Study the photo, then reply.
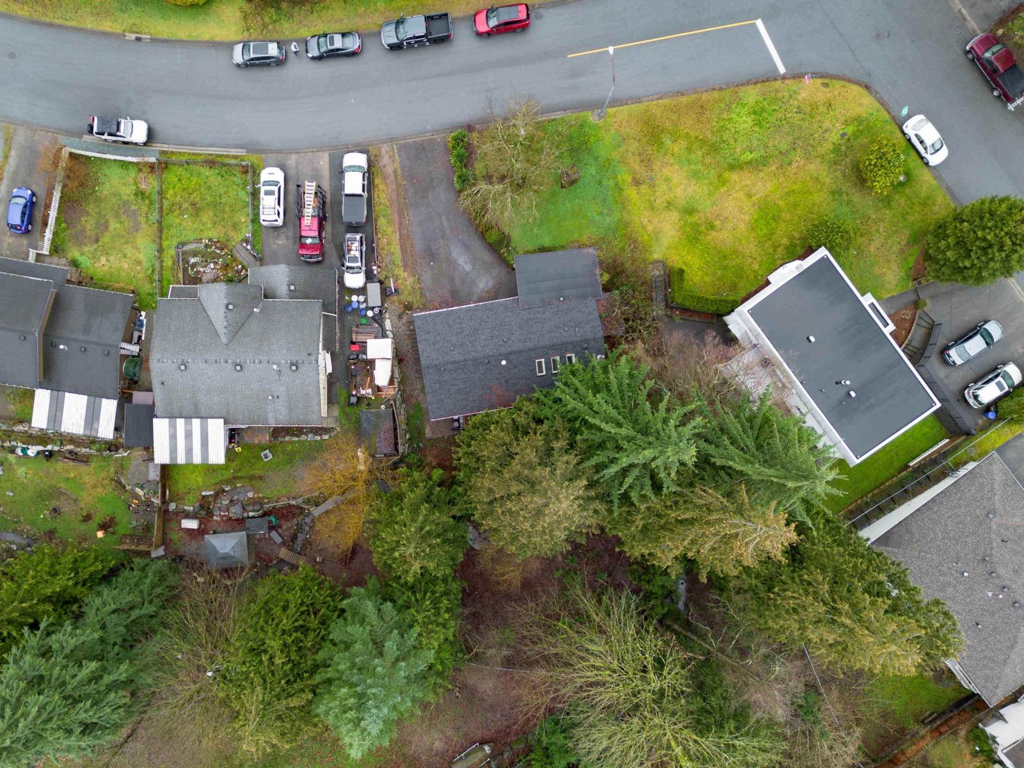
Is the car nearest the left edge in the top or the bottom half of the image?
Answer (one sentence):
The top half of the photo is where the car nearest the left edge is.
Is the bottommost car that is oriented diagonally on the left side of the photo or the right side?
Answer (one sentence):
The bottommost car that is oriented diagonally is on the right side of the image.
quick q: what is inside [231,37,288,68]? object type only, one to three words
car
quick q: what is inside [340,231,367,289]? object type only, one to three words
truck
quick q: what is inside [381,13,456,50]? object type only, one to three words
truck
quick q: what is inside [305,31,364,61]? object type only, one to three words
car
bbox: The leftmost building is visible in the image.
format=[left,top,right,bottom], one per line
[0,256,138,400]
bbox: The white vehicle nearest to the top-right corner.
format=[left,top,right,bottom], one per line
[901,112,947,167]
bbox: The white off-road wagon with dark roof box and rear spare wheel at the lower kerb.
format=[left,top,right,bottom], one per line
[87,112,150,144]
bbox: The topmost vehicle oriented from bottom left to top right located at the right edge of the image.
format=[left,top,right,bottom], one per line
[942,320,999,367]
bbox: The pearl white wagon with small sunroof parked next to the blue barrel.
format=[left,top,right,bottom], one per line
[961,362,1021,410]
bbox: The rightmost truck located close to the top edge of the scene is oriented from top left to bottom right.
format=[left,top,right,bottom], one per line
[969,38,1024,111]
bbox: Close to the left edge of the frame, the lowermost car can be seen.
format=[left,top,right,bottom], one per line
[8,186,39,235]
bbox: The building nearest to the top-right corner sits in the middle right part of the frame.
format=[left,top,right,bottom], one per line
[729,248,941,467]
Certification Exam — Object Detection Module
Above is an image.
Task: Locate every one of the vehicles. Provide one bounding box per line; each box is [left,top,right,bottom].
[340,231,367,289]
[381,13,456,50]
[87,112,150,144]
[294,186,327,261]
[901,112,947,167]
[942,320,999,367]
[231,37,288,68]
[961,362,1021,410]
[8,186,39,235]
[258,168,288,227]
[969,38,1024,111]
[340,155,370,228]
[474,4,531,37]
[305,31,364,61]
